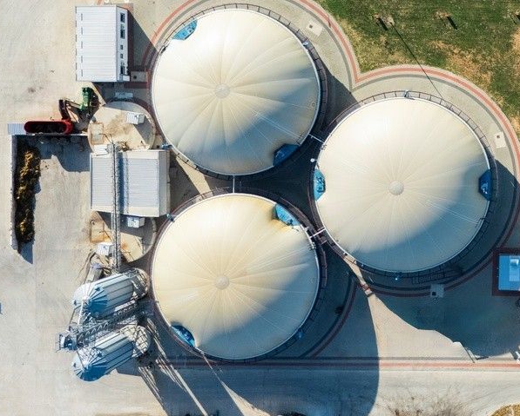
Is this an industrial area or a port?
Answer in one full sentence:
What you see here is an industrial area.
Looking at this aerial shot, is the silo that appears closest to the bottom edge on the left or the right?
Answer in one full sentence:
The silo that appears closest to the bottom edge sits on the left side.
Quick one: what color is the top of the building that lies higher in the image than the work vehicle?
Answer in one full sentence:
From above, the roof of the building that lies higher in the image than the work vehicle looks white.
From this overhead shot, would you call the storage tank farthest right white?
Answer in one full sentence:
Yes, the storage tank farthest right is indeed white.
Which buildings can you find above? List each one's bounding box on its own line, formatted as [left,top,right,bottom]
[76,5,134,83]
[499,254,520,292]
[90,151,169,216]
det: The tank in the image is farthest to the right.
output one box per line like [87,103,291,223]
[309,92,496,279]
